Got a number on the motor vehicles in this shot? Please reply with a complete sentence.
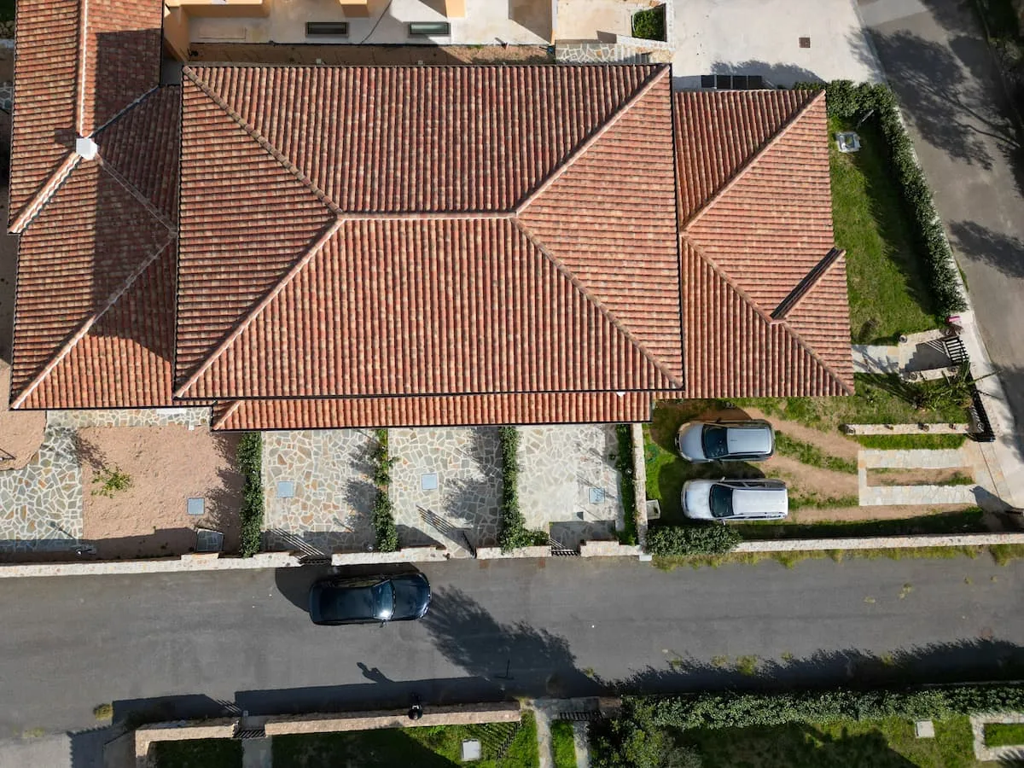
My tally gives 3 motor vehicles in this view.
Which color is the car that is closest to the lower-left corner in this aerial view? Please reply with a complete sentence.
In this view, the car that is closest to the lower-left corner is black.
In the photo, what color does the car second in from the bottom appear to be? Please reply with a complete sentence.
In this view, the car second in from the bottom is white.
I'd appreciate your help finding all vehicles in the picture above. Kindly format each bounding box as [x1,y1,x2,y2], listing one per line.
[675,416,778,467]
[679,473,793,527]
[310,572,433,629]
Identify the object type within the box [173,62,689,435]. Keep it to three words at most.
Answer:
house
